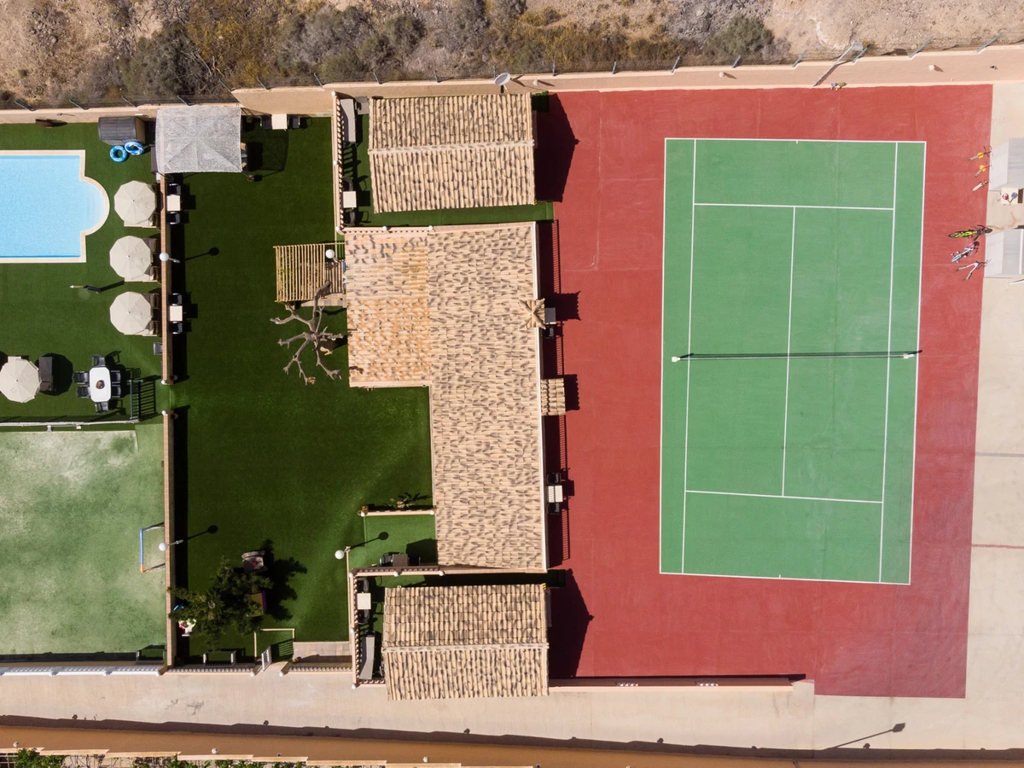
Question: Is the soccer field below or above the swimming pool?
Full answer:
The soccer field is found below the swimming pool in the photo.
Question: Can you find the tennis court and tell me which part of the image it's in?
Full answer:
Look in the right portion of the view to spot the tennis court.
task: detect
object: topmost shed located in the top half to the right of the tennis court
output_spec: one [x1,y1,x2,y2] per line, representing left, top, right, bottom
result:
[991,140,1024,188]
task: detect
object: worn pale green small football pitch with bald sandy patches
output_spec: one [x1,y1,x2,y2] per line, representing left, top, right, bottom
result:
[0,424,171,669]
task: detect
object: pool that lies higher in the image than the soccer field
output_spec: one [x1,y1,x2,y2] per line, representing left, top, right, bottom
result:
[0,150,109,263]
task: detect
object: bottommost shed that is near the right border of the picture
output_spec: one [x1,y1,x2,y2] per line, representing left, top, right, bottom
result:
[986,232,1024,277]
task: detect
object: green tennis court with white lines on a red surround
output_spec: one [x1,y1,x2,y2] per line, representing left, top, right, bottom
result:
[512,90,992,699]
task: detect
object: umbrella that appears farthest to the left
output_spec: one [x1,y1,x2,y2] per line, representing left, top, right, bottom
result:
[0,360,41,400]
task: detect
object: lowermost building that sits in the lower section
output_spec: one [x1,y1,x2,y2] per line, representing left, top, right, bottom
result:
[380,582,551,702]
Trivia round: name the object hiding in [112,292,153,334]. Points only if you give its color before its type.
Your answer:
white umbrella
